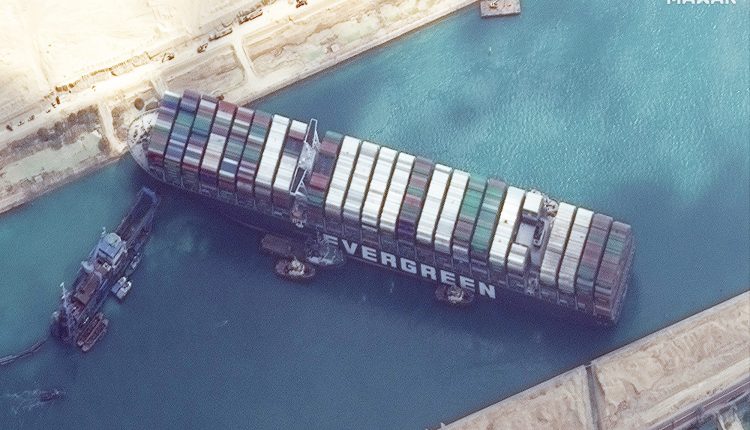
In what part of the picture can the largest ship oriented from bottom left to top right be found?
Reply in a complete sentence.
You can find the largest ship oriented from bottom left to top right in the left area of the picture.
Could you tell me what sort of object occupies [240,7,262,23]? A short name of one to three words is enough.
vehicle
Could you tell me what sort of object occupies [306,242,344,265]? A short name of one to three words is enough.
boat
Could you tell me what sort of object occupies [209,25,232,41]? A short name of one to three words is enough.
vehicle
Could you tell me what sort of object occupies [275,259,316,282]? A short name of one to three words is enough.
boat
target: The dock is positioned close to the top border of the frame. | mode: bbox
[481,0,522,21]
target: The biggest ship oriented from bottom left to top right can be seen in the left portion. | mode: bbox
[46,180,158,338]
